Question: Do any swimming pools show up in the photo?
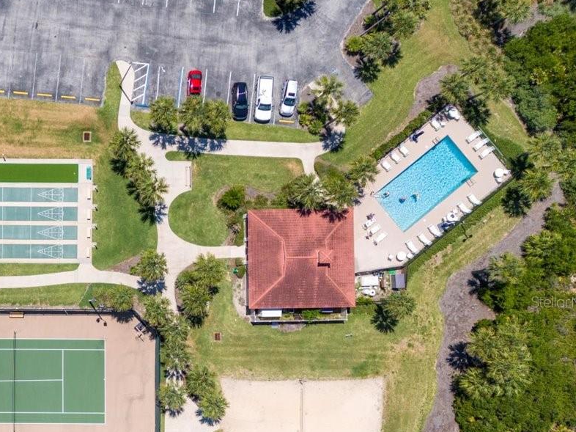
Yes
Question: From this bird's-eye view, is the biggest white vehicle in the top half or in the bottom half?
top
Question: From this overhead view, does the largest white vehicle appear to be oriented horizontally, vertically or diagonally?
vertically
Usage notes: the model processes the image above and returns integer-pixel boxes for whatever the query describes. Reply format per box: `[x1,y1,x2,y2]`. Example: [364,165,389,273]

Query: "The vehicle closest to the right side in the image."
[278,80,298,117]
